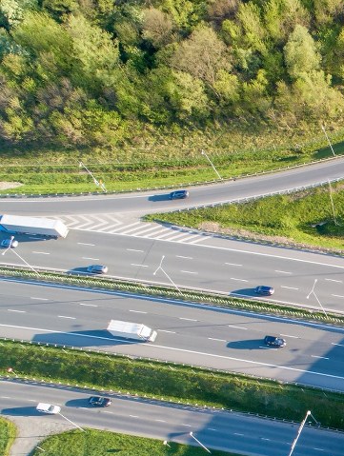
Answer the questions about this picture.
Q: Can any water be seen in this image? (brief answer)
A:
No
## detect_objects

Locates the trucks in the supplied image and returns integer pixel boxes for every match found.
[0,214,65,238]
[107,320,157,343]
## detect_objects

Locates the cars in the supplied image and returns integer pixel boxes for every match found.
[0,238,15,248]
[88,396,112,407]
[262,336,286,348]
[87,264,107,275]
[36,404,60,416]
[254,286,275,296]
[169,189,190,200]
